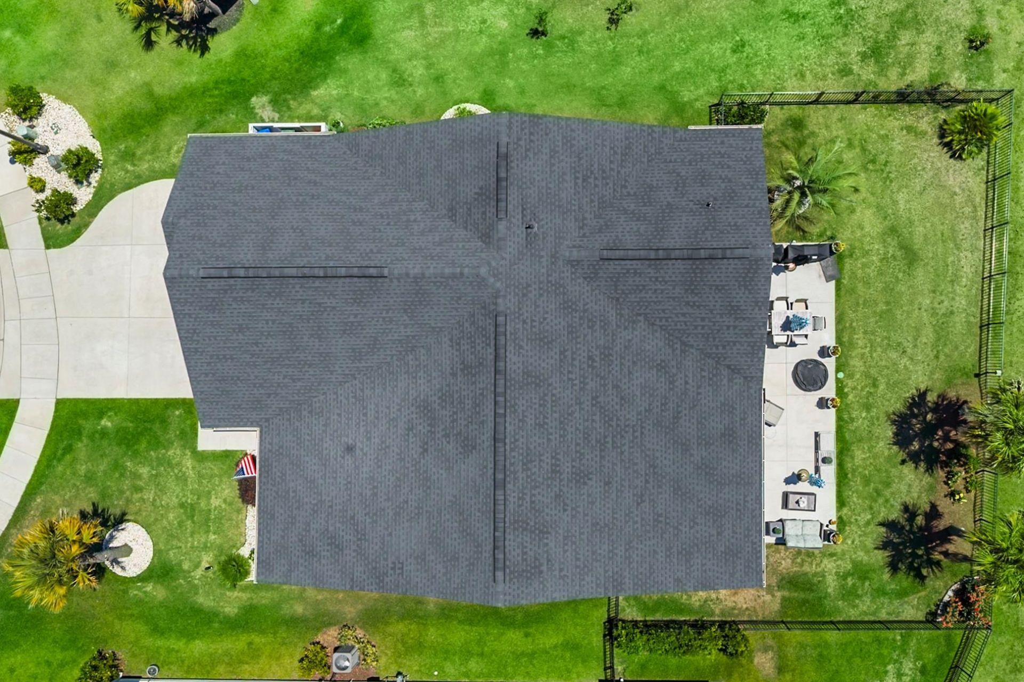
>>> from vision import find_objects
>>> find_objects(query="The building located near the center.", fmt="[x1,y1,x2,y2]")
[163,112,772,607]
